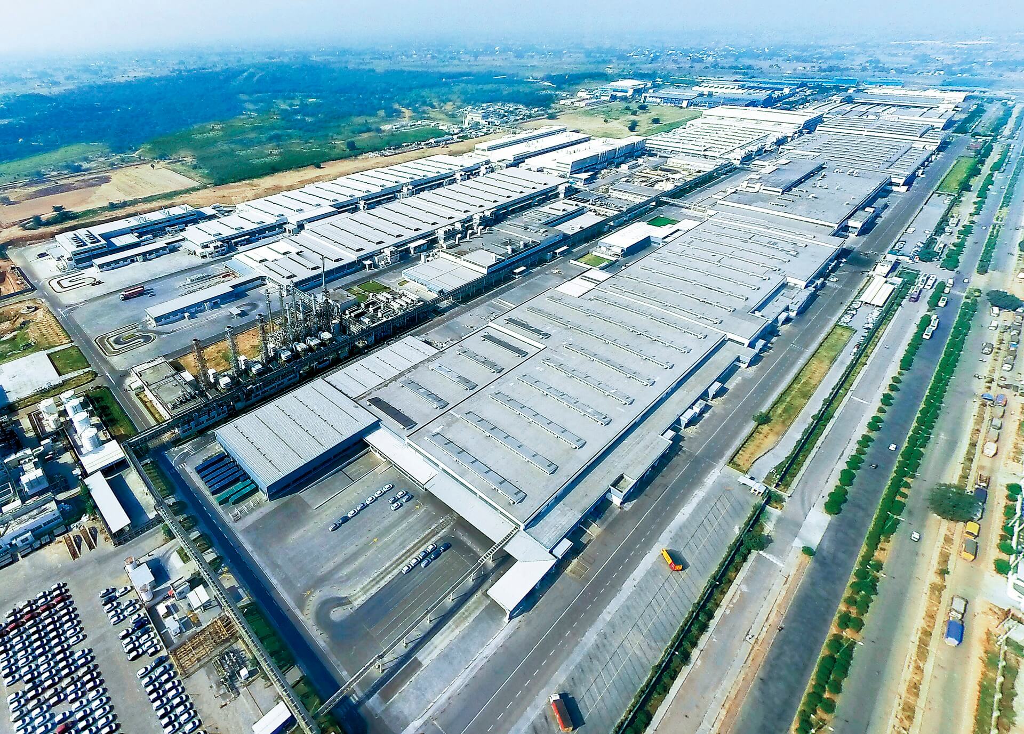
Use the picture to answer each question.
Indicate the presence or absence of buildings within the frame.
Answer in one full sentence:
Yes, this view includes a building.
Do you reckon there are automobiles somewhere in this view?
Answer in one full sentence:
Yes, there's an automobile here.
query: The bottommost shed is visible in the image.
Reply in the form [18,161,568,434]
[251,700,291,734]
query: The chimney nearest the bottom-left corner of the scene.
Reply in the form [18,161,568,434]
[189,339,210,397]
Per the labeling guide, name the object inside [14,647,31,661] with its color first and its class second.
white car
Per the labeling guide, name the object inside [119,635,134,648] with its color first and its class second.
white vehicle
